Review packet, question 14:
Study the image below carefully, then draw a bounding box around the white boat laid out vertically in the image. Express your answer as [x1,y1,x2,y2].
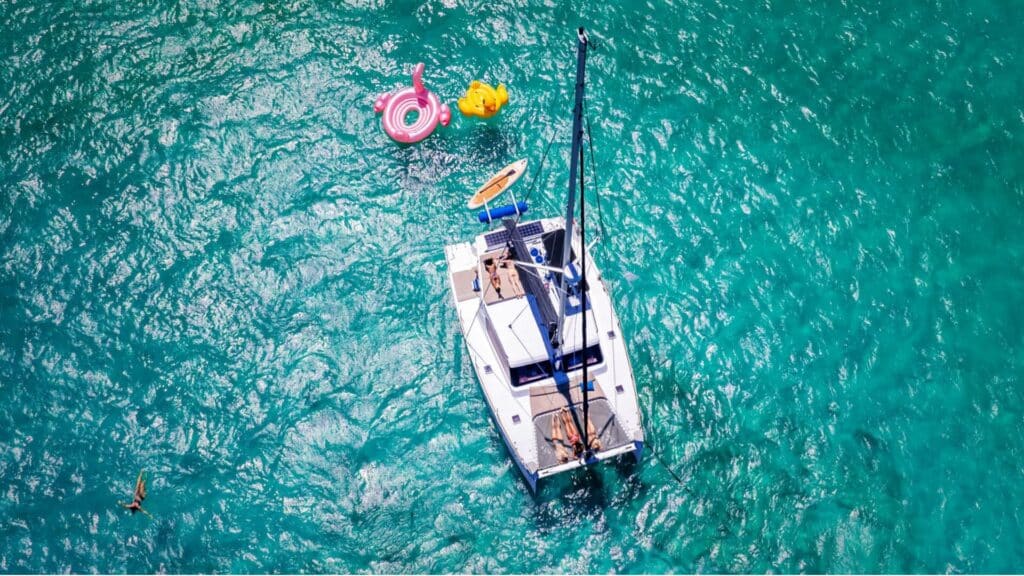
[445,24,648,490]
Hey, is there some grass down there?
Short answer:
No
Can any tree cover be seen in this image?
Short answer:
No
